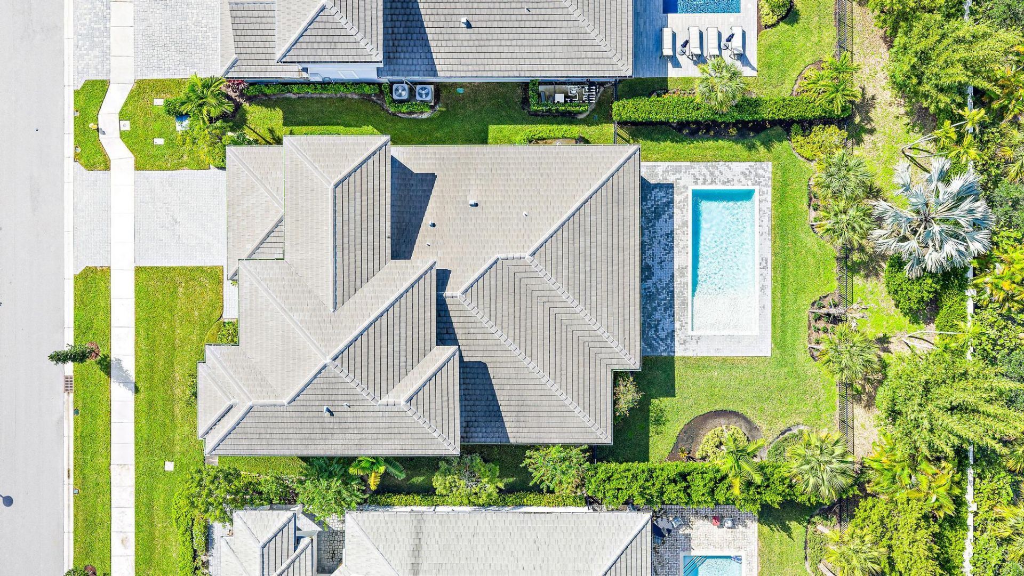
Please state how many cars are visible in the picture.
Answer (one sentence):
The count of cars is 0.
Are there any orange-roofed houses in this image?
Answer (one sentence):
No, the frame has no orange-roofed house in it.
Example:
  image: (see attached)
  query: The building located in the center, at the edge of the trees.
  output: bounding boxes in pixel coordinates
[196,133,643,457]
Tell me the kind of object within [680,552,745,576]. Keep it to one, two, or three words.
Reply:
swimming pool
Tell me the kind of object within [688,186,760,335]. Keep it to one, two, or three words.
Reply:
swimming pool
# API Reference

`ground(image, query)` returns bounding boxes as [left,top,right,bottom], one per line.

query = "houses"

[219,504,654,576]
[218,0,635,84]
[196,133,643,457]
